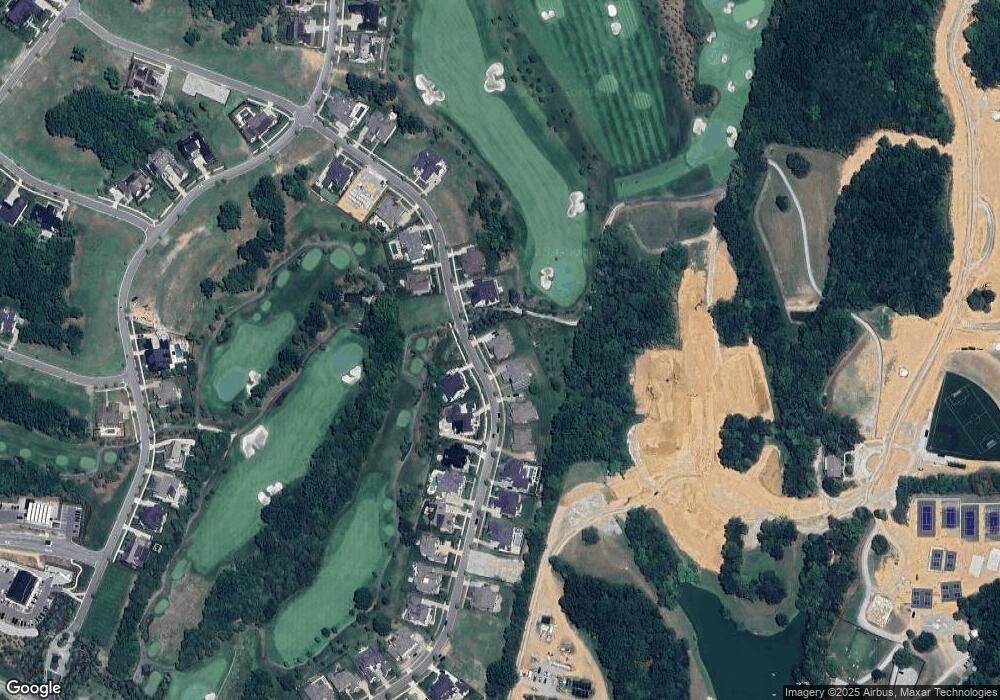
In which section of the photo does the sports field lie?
right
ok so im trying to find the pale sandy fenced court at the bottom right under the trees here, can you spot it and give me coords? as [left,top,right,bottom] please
[888,666,920,700]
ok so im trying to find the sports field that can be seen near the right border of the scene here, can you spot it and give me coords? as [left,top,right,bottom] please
[928,371,1000,461]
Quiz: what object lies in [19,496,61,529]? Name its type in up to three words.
building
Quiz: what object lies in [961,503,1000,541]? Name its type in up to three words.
tennis court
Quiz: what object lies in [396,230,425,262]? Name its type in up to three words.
house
